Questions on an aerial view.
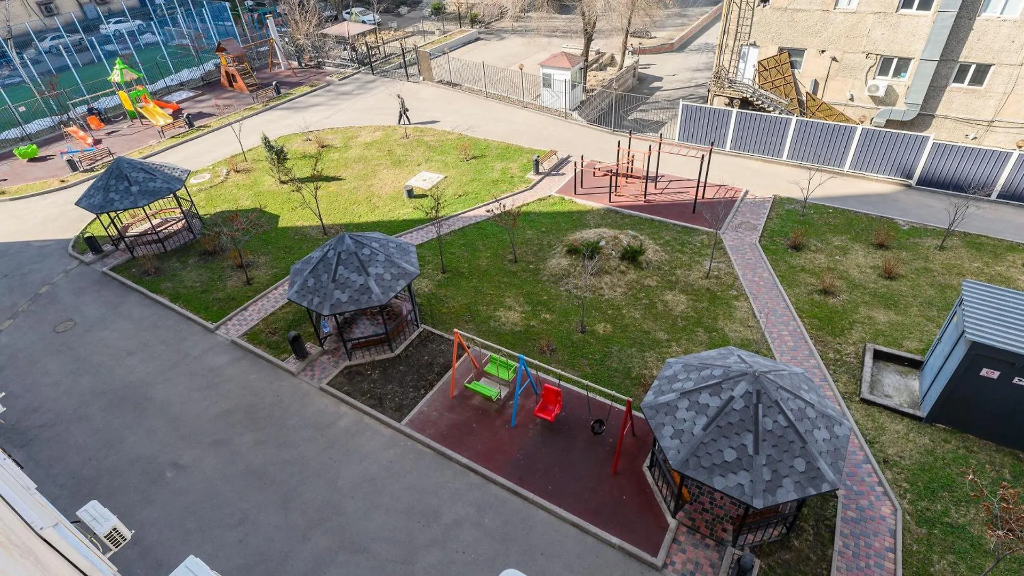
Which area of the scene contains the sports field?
top left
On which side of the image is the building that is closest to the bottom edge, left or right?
left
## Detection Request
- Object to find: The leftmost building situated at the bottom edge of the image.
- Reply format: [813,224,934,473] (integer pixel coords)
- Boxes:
[0,452,117,576]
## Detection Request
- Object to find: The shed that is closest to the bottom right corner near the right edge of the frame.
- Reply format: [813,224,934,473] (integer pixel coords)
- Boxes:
[923,279,1024,449]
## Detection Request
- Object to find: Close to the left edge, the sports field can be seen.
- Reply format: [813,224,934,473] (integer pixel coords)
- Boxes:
[0,43,240,129]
